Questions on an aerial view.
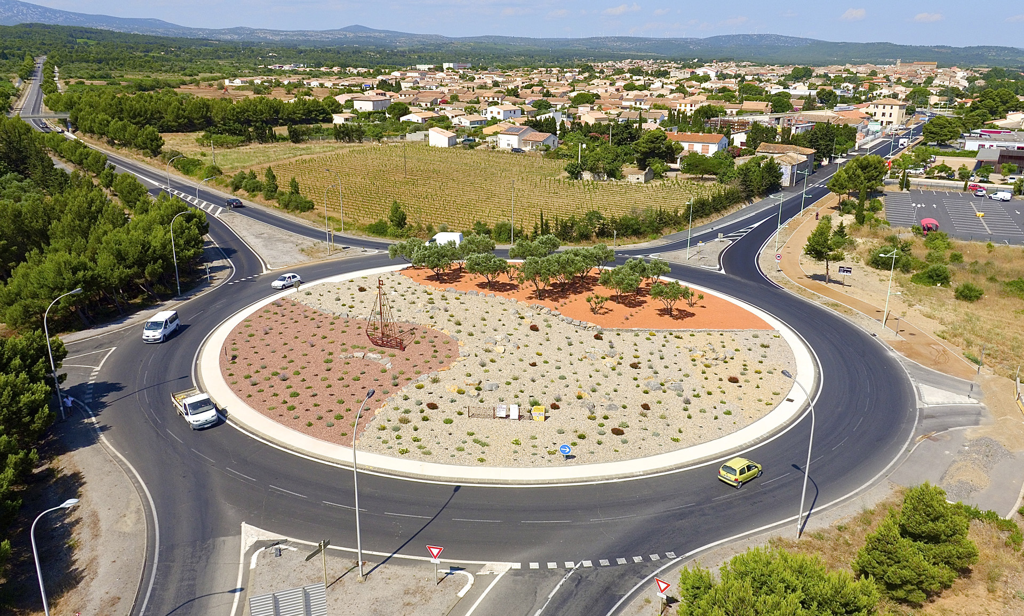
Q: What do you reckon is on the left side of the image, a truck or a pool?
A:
truck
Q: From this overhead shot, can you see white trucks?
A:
Yes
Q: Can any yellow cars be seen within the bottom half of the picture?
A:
Yes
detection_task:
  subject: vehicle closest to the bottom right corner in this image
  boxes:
[718,457,764,489]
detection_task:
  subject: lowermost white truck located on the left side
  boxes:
[172,391,219,430]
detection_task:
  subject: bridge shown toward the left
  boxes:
[0,110,80,133]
